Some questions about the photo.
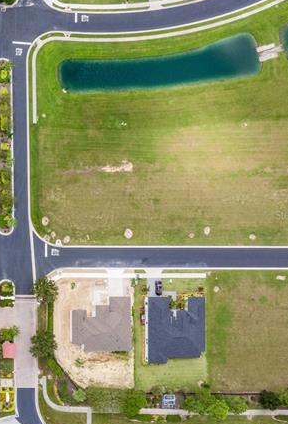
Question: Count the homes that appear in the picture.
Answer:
two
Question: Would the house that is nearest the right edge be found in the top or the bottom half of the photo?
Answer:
bottom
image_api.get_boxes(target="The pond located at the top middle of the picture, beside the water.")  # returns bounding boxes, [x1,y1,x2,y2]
[58,33,261,92]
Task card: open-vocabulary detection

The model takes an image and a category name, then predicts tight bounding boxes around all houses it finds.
[144,296,206,363]
[70,296,131,352]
